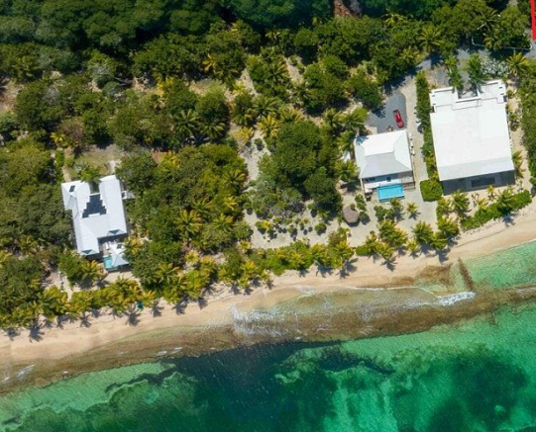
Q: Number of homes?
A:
3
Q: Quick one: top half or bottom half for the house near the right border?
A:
top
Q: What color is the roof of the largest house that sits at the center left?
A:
white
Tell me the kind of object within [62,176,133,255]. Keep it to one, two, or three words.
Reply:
house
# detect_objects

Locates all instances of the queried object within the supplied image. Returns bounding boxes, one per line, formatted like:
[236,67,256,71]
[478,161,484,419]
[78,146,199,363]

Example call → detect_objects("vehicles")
[415,120,421,129]
[394,110,404,128]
